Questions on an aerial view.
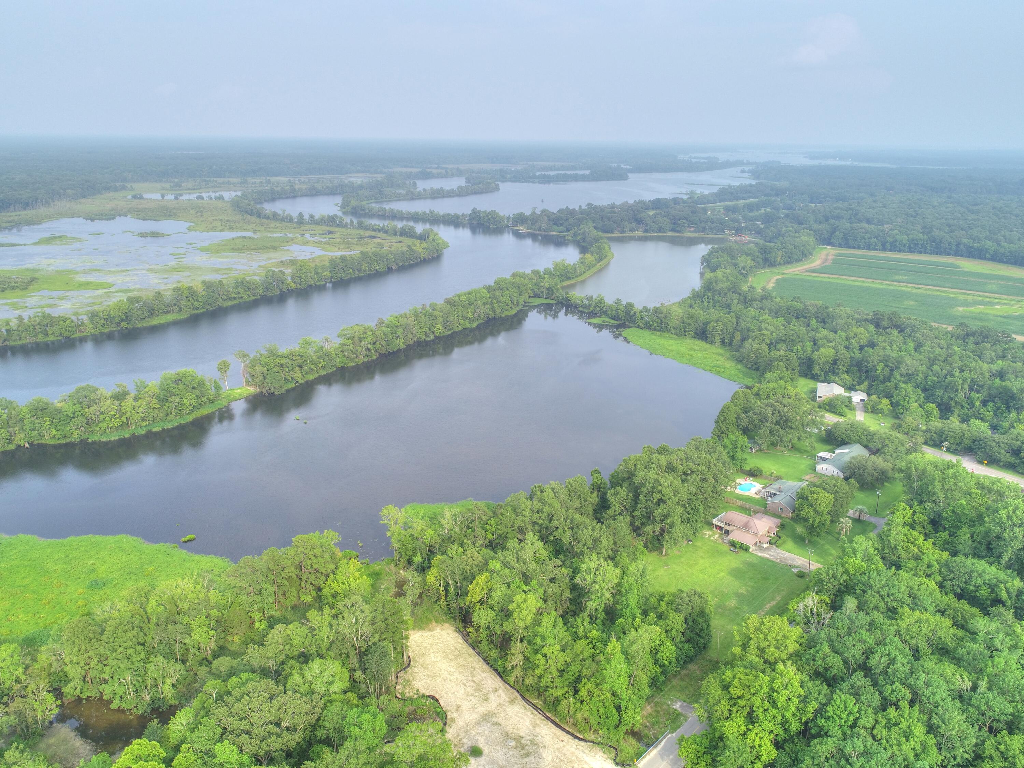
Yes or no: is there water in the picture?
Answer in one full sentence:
Yes, water shows up in the scene.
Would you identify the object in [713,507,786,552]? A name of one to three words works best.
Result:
house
